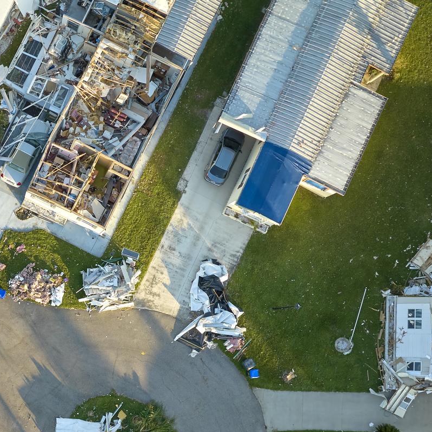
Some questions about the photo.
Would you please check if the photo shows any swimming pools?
No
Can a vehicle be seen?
Yes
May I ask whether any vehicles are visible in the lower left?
No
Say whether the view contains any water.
No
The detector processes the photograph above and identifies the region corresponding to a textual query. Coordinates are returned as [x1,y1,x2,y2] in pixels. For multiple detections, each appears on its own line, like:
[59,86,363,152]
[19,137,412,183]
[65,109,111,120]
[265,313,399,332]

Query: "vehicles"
[199,125,252,191]
[0,111,49,190]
